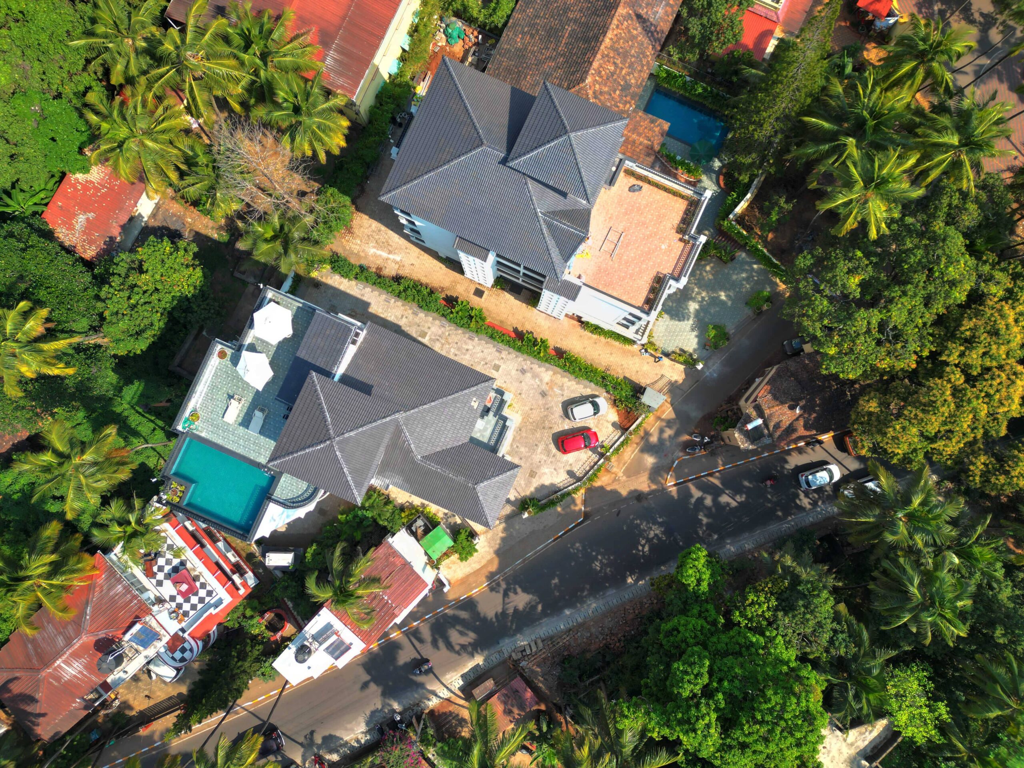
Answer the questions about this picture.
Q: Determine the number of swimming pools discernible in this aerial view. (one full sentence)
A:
The photo contains 2 swimming pools.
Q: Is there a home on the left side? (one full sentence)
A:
Yes, a home is visible on the left side.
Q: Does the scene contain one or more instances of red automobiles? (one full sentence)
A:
Yes, you can see a red automobile in this photo.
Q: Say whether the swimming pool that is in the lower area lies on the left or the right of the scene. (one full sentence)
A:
It is on the left.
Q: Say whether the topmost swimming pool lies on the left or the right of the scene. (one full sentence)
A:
The topmost swimming pool is on the right side of the image.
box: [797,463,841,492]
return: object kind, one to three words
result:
car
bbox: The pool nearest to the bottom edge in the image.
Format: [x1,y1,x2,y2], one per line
[171,438,275,534]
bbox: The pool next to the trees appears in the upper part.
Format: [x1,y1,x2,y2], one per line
[641,83,737,166]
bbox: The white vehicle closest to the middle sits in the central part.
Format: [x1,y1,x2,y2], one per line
[567,396,608,422]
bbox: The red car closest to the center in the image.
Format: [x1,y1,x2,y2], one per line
[558,428,599,454]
